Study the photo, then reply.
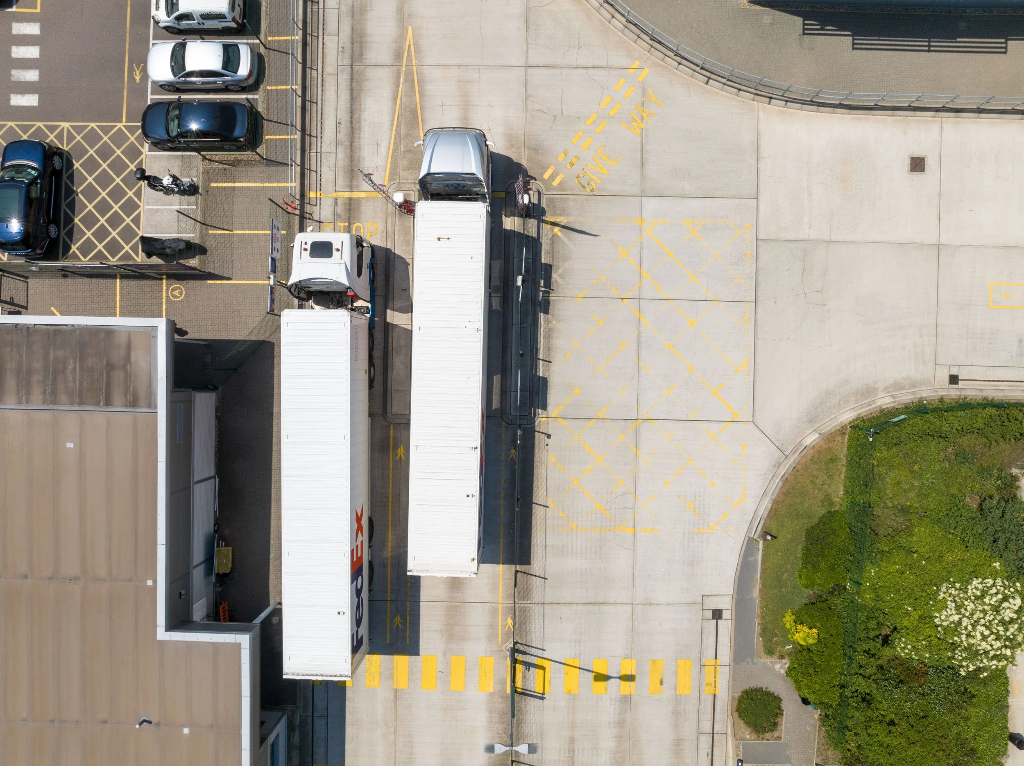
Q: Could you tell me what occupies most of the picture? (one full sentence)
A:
The bulk of the photo consists of paved ground.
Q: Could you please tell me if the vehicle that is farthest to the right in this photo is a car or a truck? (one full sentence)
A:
It looks like the vehicle that is farthest to the right is a truck.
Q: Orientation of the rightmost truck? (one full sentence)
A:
In this picture, the rightmost truck lies up and down.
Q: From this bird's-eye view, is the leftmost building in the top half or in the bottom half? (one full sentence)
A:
Seen from above, the leftmost building lies in the bottom half of the view.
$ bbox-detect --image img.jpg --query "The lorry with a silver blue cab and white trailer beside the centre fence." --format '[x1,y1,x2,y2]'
[408,126,494,576]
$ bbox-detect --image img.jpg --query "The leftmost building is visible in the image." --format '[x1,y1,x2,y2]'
[0,316,288,766]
